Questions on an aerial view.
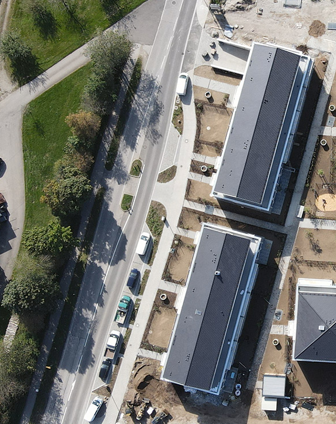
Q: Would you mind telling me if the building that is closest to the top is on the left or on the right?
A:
right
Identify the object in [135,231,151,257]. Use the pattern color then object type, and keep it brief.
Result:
white vehicle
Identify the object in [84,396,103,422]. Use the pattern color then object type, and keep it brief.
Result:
white vehicle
